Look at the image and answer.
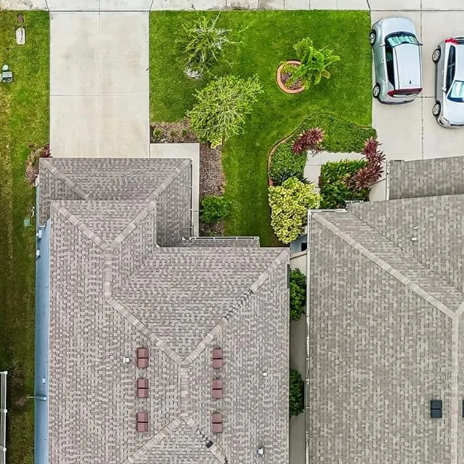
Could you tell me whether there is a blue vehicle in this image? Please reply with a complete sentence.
No, no blue vehicle can be seen from above.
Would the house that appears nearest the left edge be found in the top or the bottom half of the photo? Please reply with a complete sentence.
You can find the house that appears nearest the left edge in the bottom half.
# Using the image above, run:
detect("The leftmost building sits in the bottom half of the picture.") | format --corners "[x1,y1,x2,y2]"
[29,157,289,464]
